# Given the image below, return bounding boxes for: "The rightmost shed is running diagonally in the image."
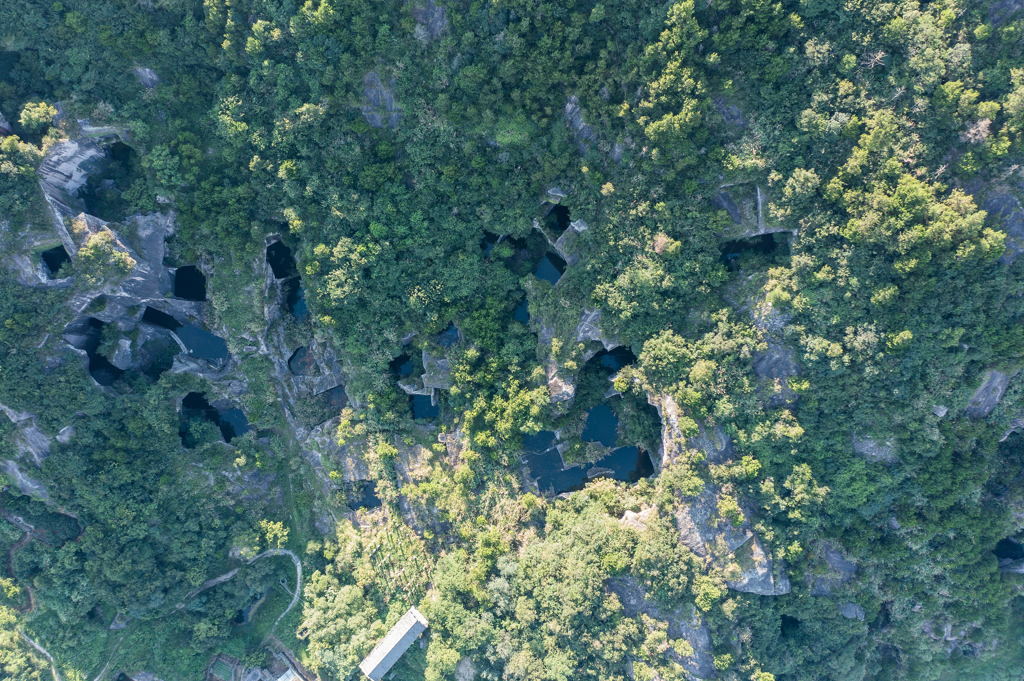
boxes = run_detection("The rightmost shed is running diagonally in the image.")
[355,608,430,681]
